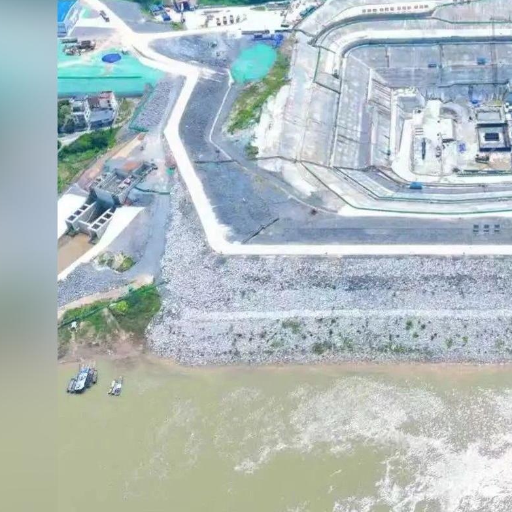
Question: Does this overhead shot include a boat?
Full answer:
Yes, I can see a boat in this picture.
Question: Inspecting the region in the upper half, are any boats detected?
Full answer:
No, I can find no boat in the upper half.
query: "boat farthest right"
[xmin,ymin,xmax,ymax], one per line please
[108,377,124,394]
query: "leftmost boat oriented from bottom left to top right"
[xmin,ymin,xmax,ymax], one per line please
[69,365,99,393]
